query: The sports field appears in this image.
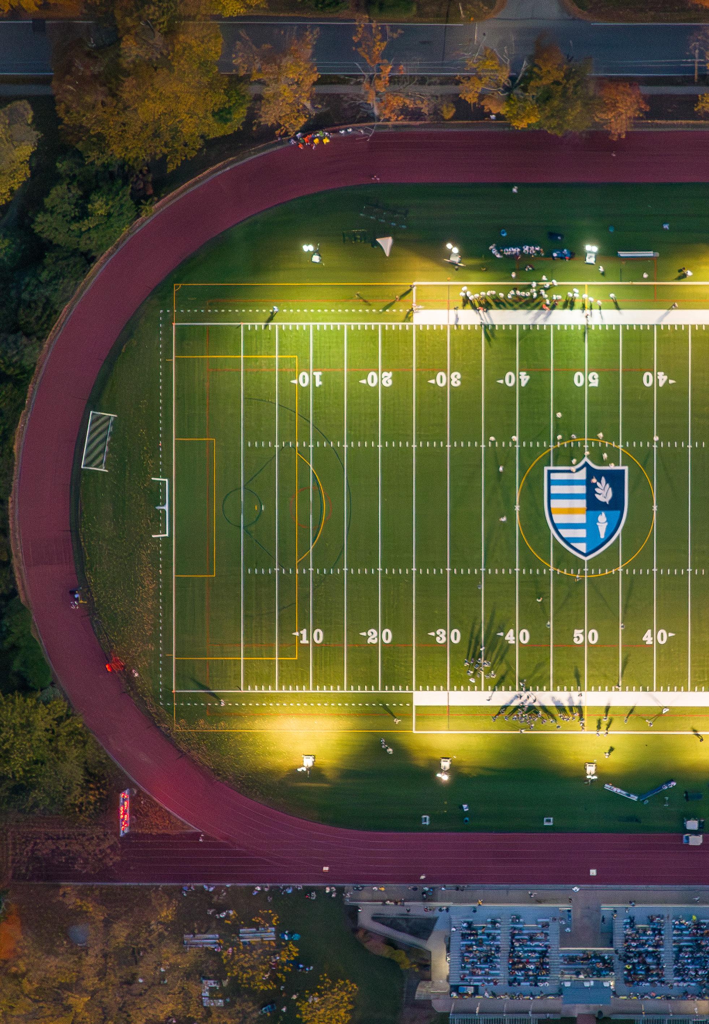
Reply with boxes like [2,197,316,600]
[70,182,709,832]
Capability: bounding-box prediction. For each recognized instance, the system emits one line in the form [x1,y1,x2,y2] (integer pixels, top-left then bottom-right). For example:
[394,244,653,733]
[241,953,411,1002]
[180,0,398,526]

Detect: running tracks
[8,129,709,887]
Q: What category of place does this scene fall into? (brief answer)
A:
sports ground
